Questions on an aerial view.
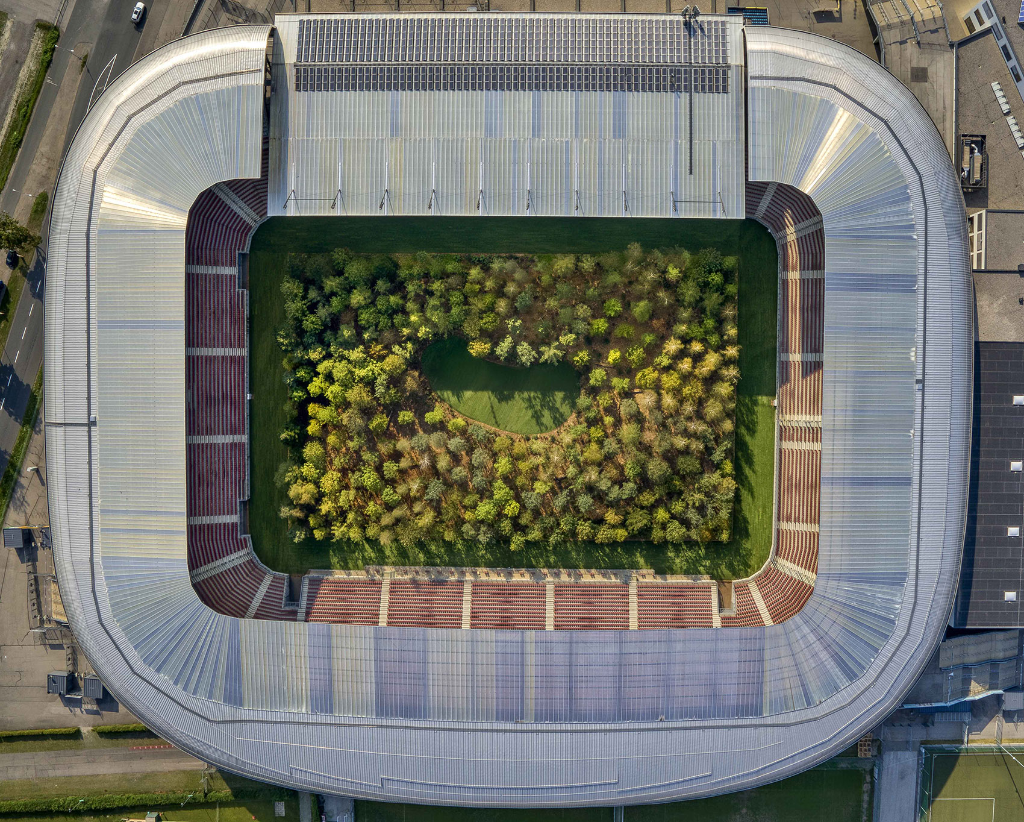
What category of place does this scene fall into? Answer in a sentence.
The picture captures a sports ground.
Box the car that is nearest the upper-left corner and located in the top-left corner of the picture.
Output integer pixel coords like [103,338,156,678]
[131,2,146,25]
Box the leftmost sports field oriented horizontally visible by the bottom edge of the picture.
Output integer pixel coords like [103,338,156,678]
[356,746,857,822]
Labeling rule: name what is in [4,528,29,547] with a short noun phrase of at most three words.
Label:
shed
